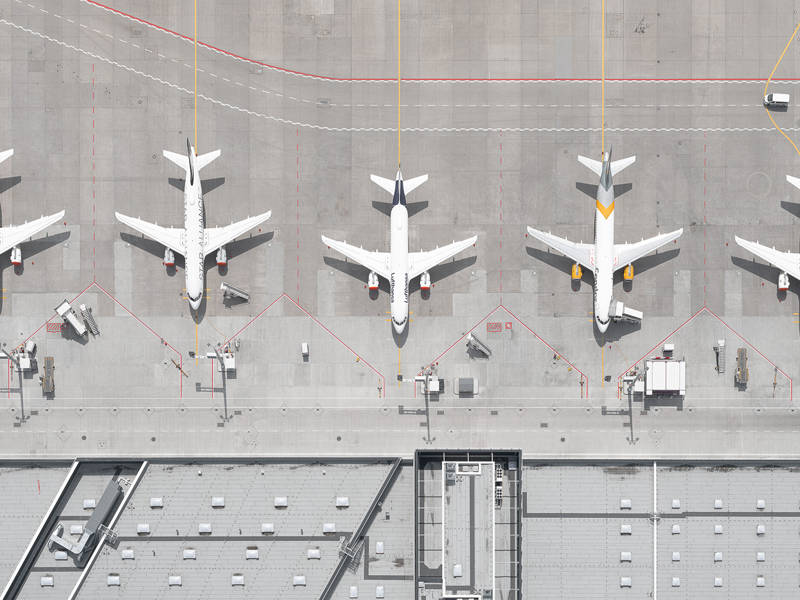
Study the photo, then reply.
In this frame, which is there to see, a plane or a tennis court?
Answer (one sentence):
The one in the frame is a plane.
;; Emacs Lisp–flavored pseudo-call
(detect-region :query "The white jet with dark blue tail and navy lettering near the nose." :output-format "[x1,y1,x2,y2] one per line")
[321,162,477,334]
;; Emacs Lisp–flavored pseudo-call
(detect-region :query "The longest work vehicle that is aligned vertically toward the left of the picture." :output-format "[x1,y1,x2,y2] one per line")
[39,357,56,392]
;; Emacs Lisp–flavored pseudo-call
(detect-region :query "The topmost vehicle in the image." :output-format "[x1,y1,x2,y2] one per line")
[765,92,791,105]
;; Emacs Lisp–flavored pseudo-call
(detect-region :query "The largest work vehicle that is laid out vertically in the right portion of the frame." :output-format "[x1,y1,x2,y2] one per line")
[733,348,748,383]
